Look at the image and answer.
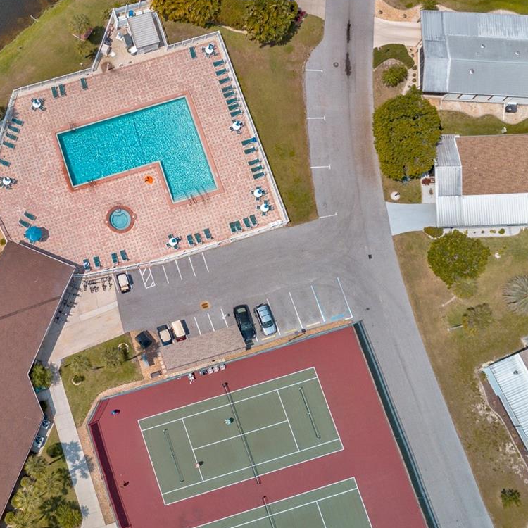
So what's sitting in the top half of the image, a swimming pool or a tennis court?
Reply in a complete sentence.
It is a swimming pool that can be seen in the top half of the image.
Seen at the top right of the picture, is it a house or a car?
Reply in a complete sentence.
There is a house at the top right of the picture.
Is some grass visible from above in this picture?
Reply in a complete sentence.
Yes, grass can be seen from above here.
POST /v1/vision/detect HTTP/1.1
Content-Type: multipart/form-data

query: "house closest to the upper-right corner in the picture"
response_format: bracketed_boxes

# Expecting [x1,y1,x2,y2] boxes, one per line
[418,10,528,103]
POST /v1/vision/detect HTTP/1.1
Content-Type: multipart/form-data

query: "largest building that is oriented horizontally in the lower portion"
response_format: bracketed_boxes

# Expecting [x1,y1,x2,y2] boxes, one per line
[161,327,245,371]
